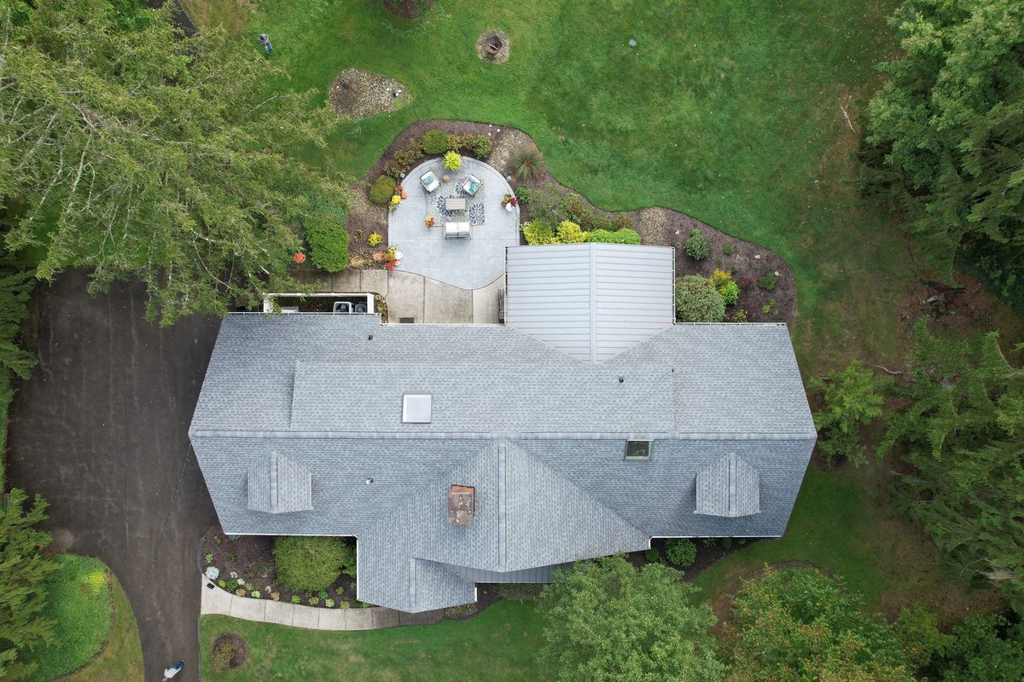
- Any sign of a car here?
No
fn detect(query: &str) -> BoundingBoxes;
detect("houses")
[190,242,816,613]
